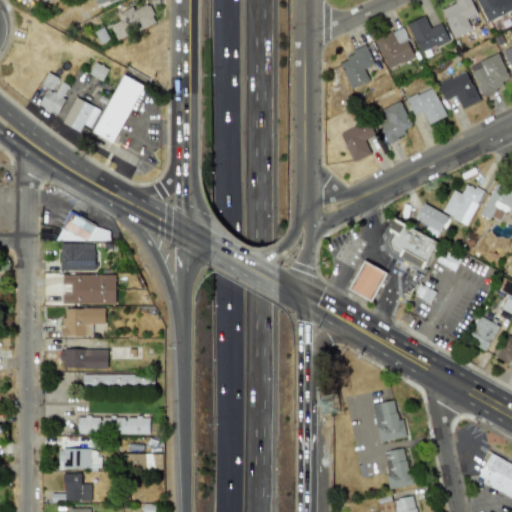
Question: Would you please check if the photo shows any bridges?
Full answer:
Yes, I can see a bridge in this picture.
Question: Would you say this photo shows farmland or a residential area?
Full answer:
It's a residential area.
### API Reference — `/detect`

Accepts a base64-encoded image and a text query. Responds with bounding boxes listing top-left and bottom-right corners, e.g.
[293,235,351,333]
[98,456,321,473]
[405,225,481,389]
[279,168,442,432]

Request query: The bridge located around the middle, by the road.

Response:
[208,208,282,306]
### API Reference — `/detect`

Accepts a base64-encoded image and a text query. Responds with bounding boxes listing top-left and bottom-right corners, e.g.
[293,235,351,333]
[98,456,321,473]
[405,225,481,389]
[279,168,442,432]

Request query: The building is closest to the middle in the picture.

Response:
[350,260,386,301]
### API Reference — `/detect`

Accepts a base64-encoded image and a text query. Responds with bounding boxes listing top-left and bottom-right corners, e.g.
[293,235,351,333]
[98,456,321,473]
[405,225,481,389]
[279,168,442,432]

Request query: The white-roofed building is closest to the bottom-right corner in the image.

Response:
[480,454,512,500]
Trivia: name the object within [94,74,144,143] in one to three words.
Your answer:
building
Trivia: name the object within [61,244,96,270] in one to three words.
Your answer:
house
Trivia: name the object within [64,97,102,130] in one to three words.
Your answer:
building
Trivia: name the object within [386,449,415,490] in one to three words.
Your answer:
house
